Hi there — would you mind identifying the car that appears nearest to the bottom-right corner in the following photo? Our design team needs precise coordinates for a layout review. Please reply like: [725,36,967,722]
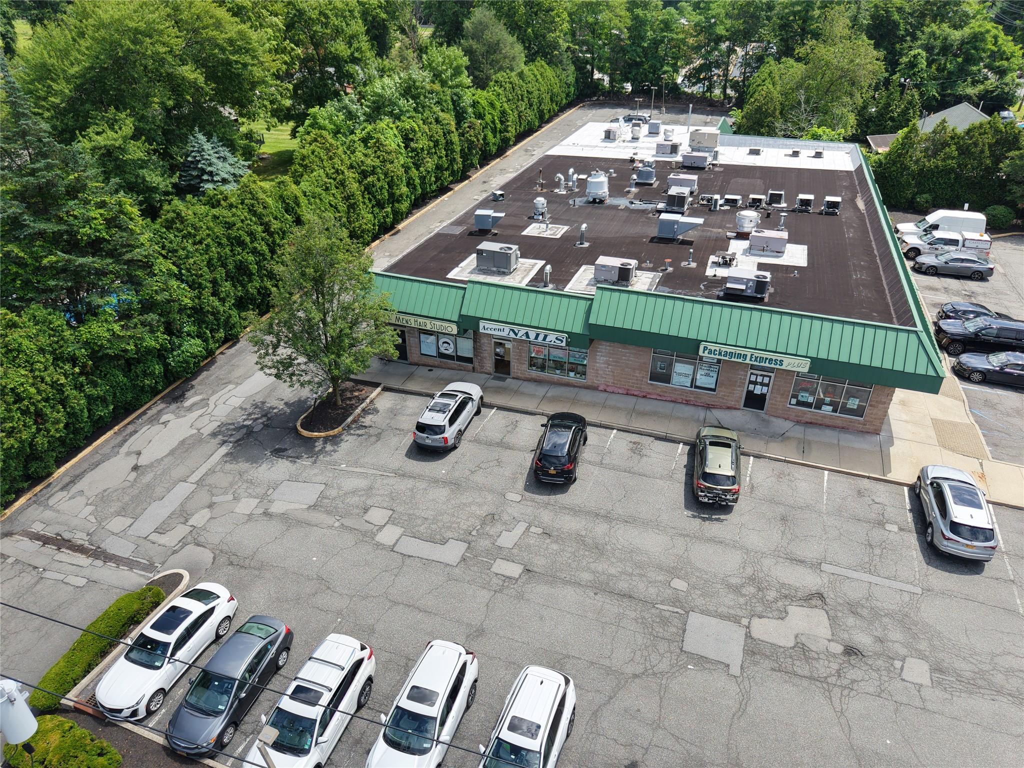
[913,468,1001,568]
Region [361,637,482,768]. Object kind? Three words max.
car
